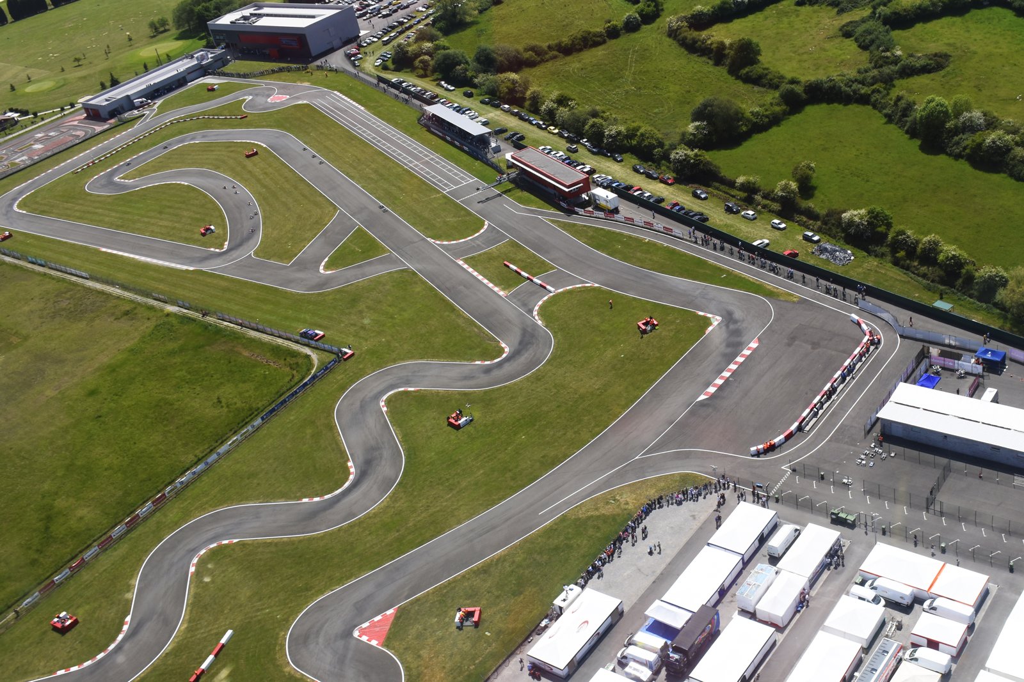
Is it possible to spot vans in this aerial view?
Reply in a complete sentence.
Yes, a van is visible in the scene.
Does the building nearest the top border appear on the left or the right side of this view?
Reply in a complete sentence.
The building nearest the top border appears in the left half of the scene.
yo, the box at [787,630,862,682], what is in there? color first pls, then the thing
white tent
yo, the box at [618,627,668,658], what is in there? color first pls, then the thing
white van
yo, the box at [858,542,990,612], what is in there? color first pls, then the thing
white tent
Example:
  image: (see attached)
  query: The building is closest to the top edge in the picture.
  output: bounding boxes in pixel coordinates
[207,3,355,56]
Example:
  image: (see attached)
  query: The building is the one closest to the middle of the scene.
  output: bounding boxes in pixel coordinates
[503,147,592,210]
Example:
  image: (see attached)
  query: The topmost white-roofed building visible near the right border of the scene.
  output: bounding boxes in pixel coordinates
[877,383,1024,465]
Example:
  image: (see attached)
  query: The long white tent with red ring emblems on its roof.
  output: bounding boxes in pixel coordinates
[527,587,622,680]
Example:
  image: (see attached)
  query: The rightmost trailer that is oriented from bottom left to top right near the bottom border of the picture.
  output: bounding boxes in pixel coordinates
[855,623,906,682]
